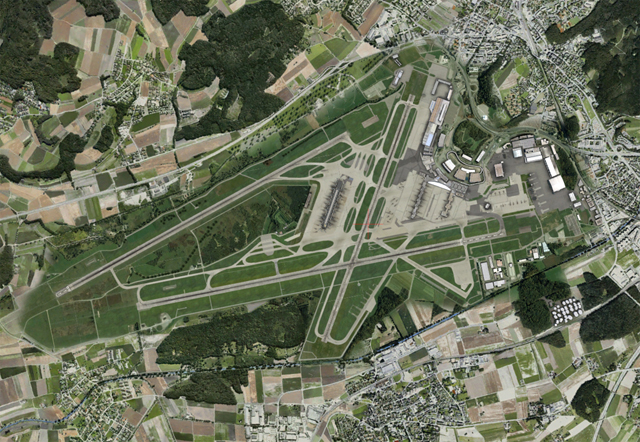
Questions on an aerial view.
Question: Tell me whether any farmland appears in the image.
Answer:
Yes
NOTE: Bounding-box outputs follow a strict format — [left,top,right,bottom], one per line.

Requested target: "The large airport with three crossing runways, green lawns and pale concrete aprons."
[5,42,591,359]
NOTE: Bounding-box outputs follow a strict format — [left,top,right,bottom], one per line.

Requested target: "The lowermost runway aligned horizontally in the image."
[138,230,506,307]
